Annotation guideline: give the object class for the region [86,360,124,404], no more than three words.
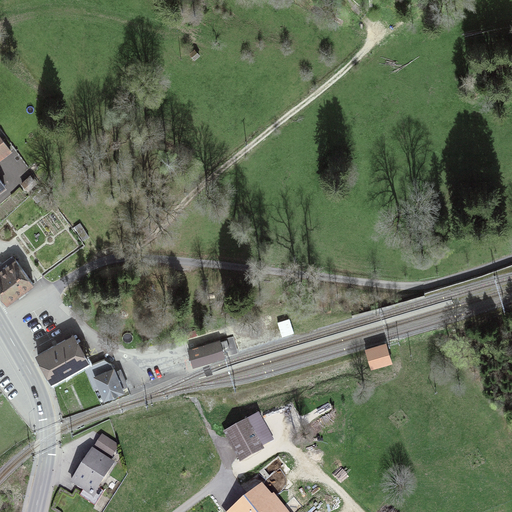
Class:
building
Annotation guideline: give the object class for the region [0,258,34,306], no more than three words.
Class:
house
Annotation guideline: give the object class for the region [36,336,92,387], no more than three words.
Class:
house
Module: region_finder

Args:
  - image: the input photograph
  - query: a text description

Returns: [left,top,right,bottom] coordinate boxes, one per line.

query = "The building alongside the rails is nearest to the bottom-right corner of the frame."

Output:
[366,344,392,370]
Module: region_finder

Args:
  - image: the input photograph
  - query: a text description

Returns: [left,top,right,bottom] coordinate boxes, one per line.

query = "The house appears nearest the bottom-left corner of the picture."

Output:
[72,446,114,496]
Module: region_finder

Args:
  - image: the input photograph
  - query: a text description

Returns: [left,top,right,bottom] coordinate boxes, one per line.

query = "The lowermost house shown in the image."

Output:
[228,482,290,512]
